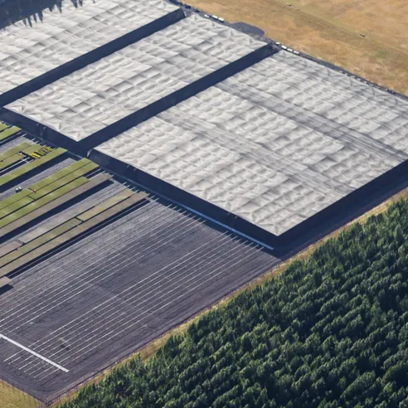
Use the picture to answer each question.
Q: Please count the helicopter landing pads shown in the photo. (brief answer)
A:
0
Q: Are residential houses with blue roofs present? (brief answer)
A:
No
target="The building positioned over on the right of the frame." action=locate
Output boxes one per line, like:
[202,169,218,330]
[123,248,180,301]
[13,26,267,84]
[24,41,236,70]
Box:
[91,50,408,246]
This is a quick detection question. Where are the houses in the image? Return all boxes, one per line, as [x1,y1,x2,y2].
[0,0,183,105]
[2,14,268,150]
[91,50,408,246]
